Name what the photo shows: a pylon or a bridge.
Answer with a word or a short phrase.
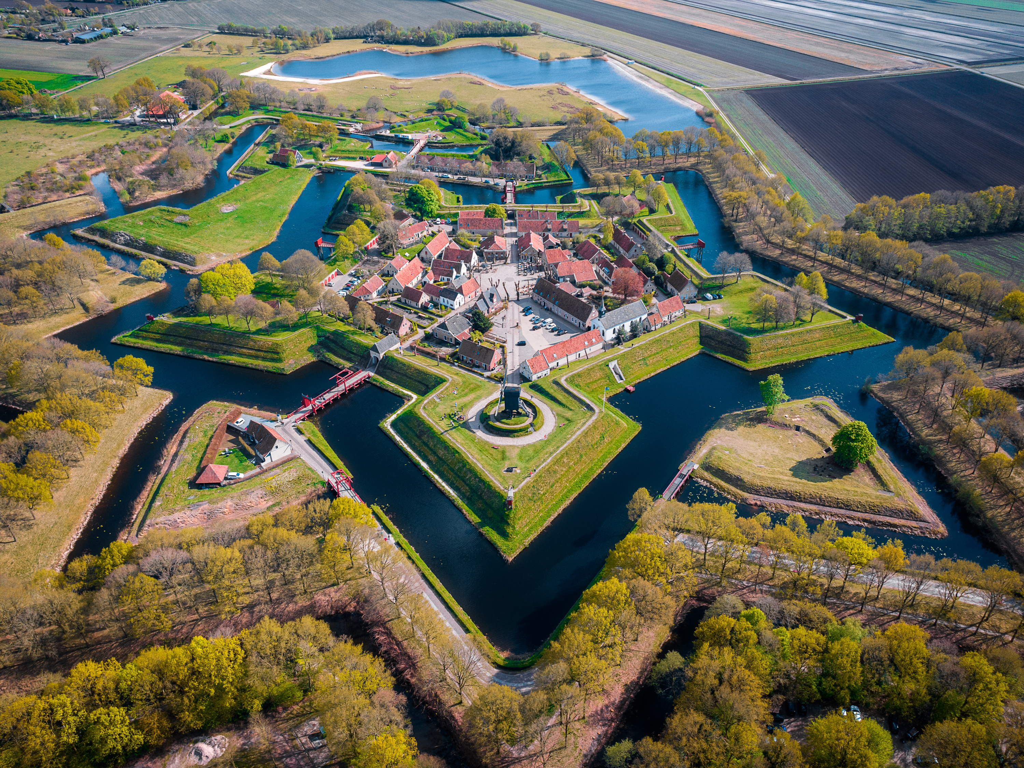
bridge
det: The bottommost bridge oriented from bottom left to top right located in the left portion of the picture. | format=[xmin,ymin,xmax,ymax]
[285,364,371,423]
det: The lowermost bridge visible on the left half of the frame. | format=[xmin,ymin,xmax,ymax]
[325,459,365,502]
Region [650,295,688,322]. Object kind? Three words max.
house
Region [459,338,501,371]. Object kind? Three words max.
house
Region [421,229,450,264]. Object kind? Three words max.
building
